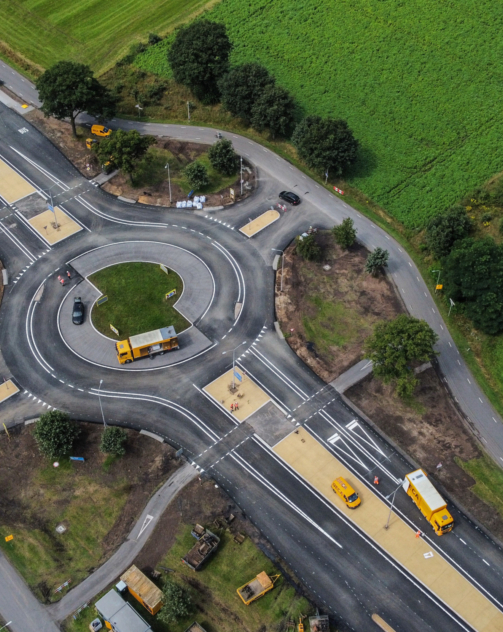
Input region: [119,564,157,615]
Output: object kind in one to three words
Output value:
shed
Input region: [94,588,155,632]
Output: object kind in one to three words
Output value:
building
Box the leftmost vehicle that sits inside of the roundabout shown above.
[70,297,85,322]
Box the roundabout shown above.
[0,189,269,444]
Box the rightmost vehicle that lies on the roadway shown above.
[396,466,459,536]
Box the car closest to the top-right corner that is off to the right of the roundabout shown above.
[278,188,302,205]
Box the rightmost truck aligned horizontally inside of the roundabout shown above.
[114,326,178,364]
